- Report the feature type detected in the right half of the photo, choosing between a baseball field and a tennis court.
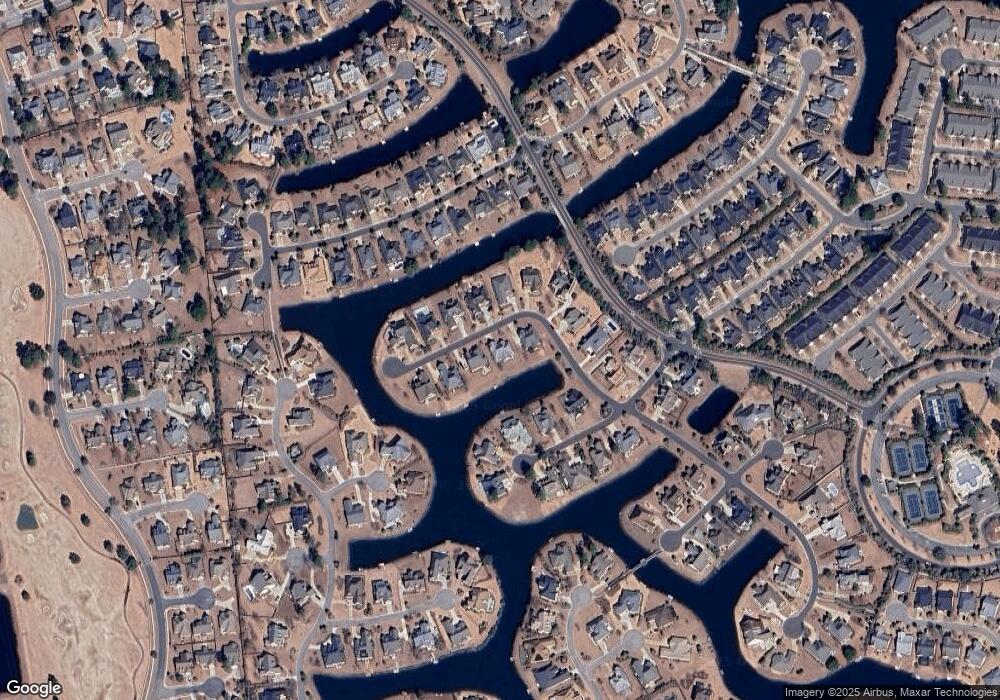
tennis court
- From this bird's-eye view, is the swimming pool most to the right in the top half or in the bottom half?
bottom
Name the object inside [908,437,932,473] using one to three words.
tennis court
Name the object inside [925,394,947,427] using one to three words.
tennis court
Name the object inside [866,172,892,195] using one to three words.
building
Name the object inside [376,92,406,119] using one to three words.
house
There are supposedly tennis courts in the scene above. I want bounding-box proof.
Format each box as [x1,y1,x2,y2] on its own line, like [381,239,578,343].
[908,437,932,473]
[942,390,965,426]
[925,394,947,427]
[900,484,926,524]
[891,440,915,476]
[920,480,945,519]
